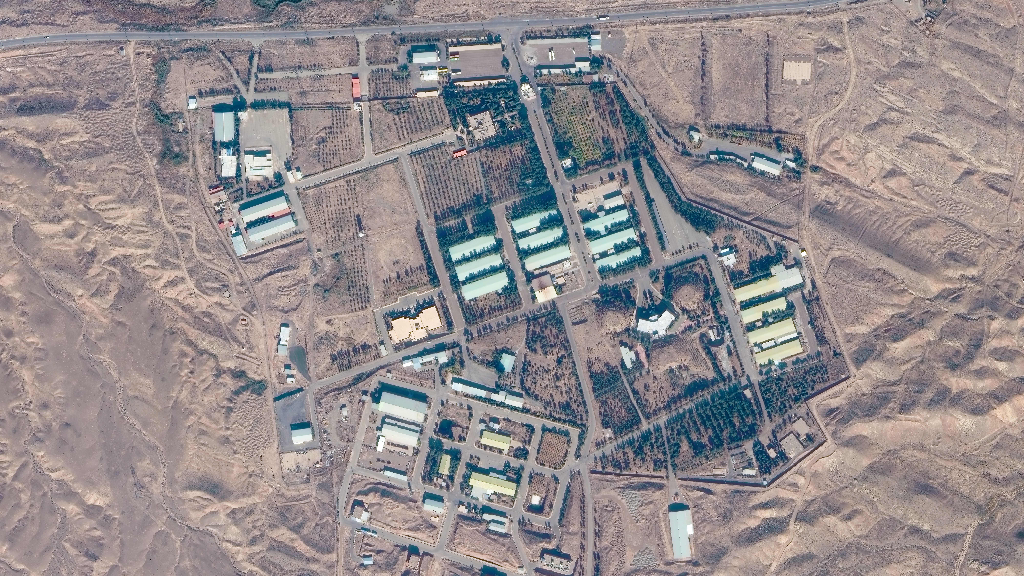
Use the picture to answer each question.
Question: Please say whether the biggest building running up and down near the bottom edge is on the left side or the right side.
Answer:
right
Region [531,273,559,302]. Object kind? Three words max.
building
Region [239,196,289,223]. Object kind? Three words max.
building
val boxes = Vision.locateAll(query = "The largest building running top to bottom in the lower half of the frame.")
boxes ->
[670,510,692,559]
